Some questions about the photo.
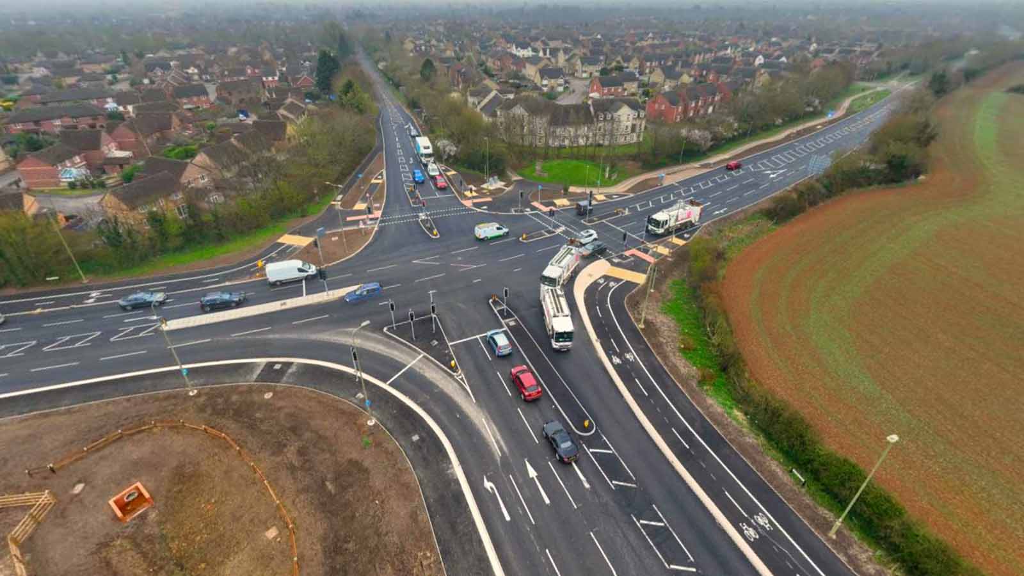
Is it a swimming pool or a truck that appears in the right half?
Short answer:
truck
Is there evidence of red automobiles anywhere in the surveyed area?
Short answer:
Yes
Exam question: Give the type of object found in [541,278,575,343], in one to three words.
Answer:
truck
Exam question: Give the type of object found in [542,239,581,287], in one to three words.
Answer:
truck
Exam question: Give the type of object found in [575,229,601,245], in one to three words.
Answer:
car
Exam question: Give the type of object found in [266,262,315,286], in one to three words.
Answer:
vehicle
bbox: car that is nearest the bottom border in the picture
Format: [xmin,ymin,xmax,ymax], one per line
[542,422,582,468]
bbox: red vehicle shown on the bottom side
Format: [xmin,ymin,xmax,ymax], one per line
[511,368,543,403]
